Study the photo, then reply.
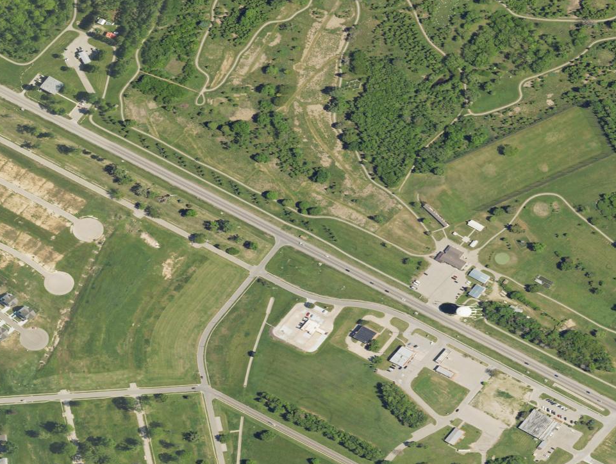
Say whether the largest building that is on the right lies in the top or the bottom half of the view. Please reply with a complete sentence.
The largest building that is on the right sits in the bottom half of the picture.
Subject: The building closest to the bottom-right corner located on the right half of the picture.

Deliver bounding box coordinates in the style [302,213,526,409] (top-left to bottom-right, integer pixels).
[518,409,561,449]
